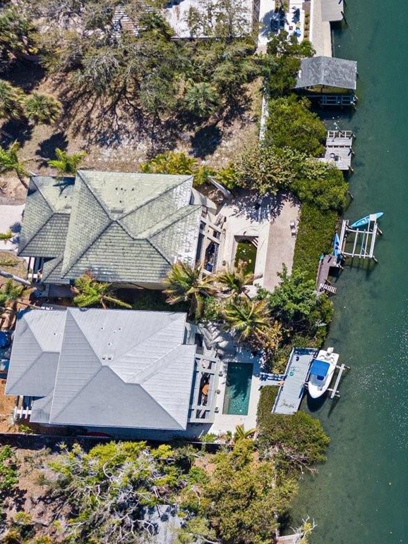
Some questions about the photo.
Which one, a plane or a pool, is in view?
pool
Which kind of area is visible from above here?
residential area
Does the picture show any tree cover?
Yes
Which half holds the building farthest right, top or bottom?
top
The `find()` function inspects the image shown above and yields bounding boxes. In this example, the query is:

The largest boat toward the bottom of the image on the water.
[311,345,339,399]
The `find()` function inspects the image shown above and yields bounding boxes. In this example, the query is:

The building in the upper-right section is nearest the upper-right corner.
[296,56,362,111]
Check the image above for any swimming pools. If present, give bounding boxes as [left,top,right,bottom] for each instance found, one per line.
[219,360,255,417]
[229,233,260,279]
